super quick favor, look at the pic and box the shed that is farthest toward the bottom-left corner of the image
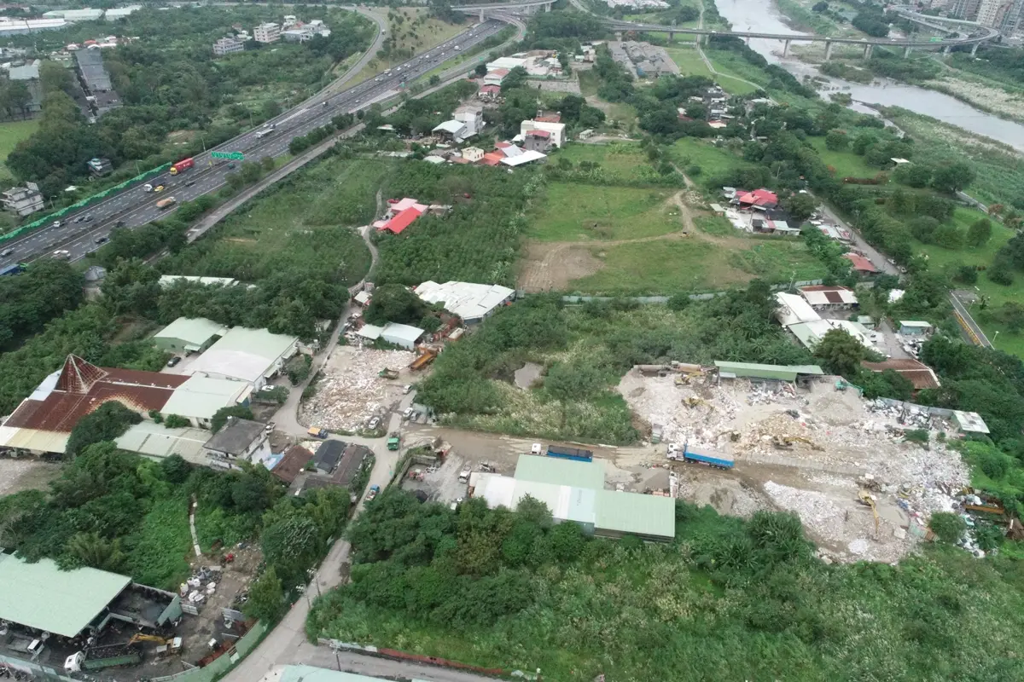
[0,550,139,650]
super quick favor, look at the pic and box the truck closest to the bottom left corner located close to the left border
[12,626,45,661]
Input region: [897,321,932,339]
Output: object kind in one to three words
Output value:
shed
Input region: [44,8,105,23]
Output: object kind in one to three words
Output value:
building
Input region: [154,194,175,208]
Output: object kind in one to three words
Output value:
vehicle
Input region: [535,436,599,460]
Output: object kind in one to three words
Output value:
truck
